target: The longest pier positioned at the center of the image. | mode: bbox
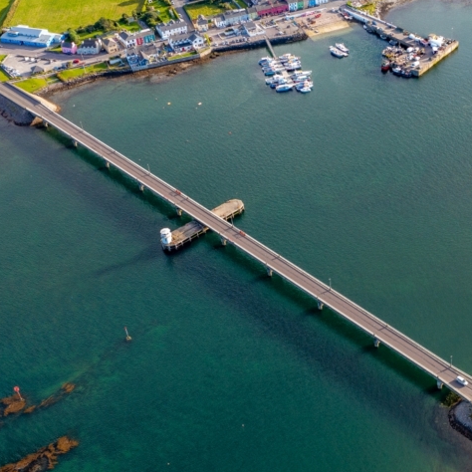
[155,199,247,253]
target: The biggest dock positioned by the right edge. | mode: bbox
[340,4,460,78]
